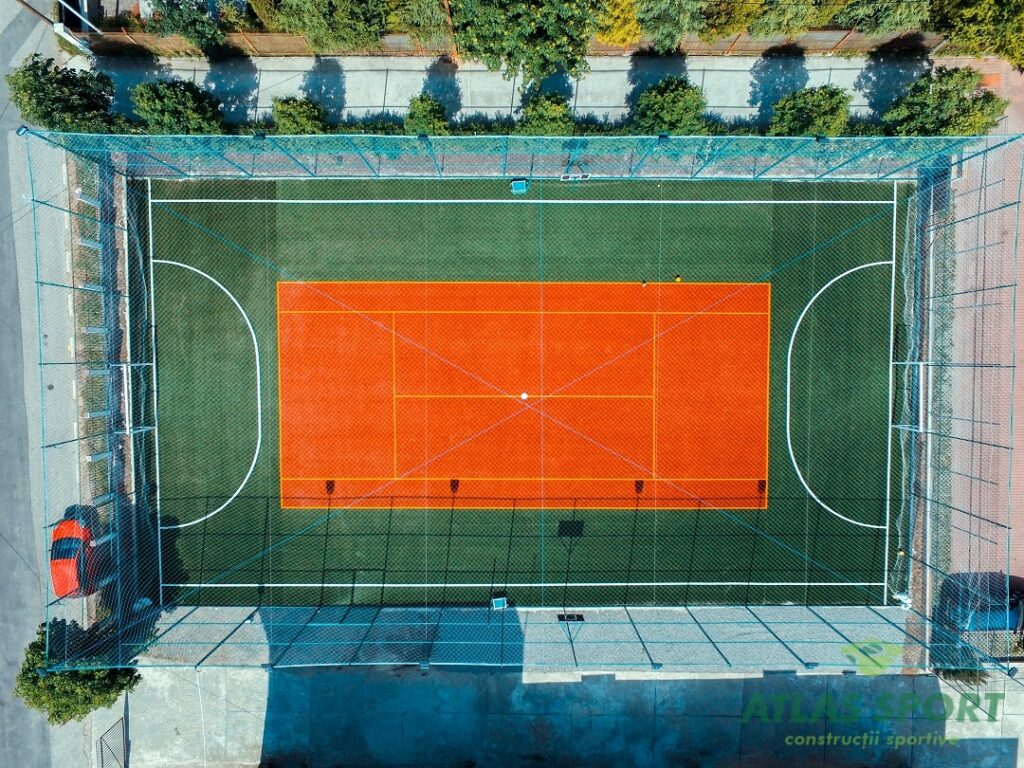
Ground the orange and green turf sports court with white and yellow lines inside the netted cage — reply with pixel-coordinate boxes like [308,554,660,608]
[127,178,910,607]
